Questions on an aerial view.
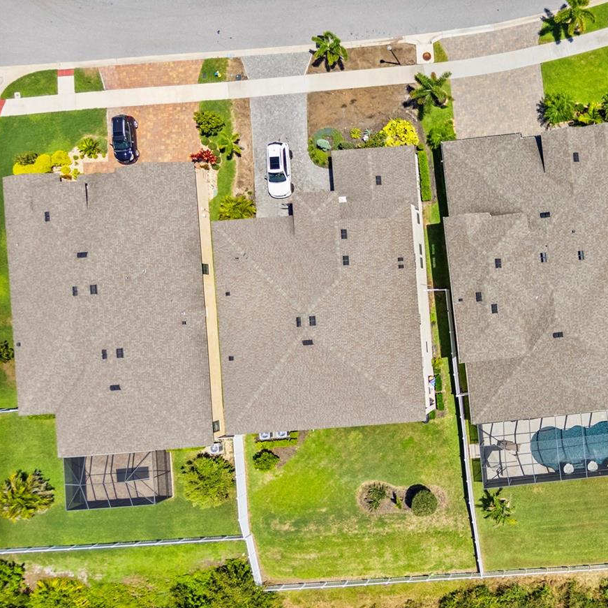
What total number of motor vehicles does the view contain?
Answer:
2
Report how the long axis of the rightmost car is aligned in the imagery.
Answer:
vertically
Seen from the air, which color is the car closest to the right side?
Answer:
white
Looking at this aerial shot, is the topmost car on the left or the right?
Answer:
left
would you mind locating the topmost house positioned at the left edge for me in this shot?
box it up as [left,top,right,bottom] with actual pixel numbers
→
[2,163,227,458]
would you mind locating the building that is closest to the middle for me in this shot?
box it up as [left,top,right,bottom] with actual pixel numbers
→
[211,145,437,438]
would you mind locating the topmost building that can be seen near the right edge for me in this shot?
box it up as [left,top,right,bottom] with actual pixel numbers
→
[441,127,608,425]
